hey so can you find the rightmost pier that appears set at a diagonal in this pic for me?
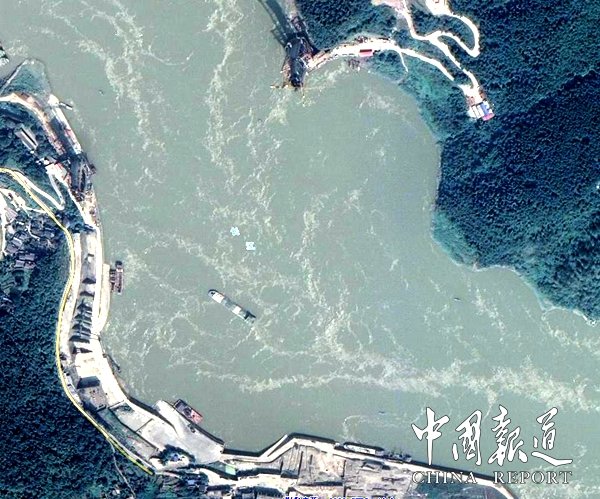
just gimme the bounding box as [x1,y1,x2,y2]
[155,400,224,466]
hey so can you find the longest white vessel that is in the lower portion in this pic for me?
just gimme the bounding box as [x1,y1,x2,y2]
[208,289,256,323]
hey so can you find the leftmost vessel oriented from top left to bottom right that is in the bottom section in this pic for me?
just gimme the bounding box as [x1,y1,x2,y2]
[174,397,205,425]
